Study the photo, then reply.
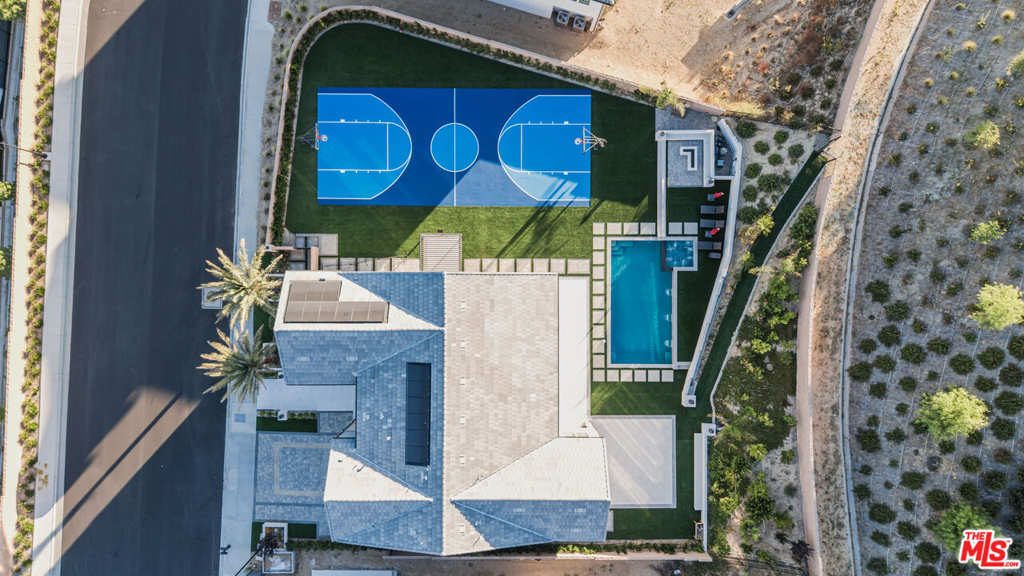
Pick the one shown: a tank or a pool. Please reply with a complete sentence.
Visible in the photo is a pool.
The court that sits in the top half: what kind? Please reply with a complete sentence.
I'd say the court that sits in the top half is a basketball court.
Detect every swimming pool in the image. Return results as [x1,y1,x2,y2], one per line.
[606,236,698,369]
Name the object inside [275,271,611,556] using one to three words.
house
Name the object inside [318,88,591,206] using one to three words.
basketball court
